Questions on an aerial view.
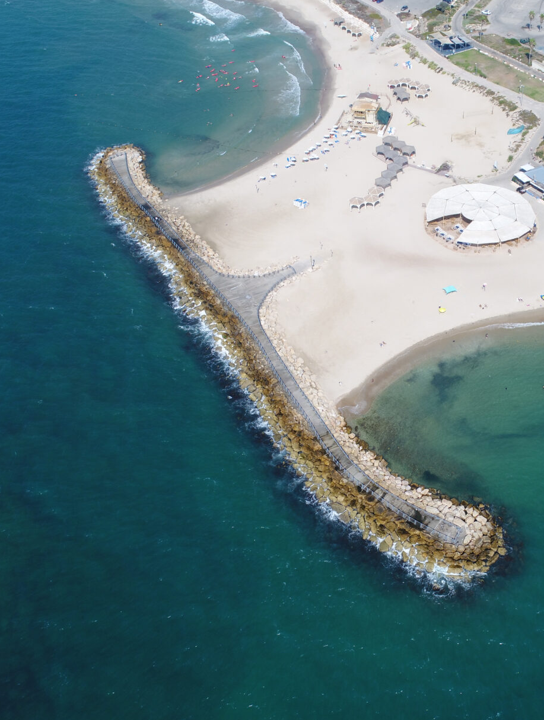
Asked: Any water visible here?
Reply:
Yes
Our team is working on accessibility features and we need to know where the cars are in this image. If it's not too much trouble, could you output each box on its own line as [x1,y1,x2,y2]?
[513,184,527,193]
[400,3,408,9]
[481,8,492,13]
